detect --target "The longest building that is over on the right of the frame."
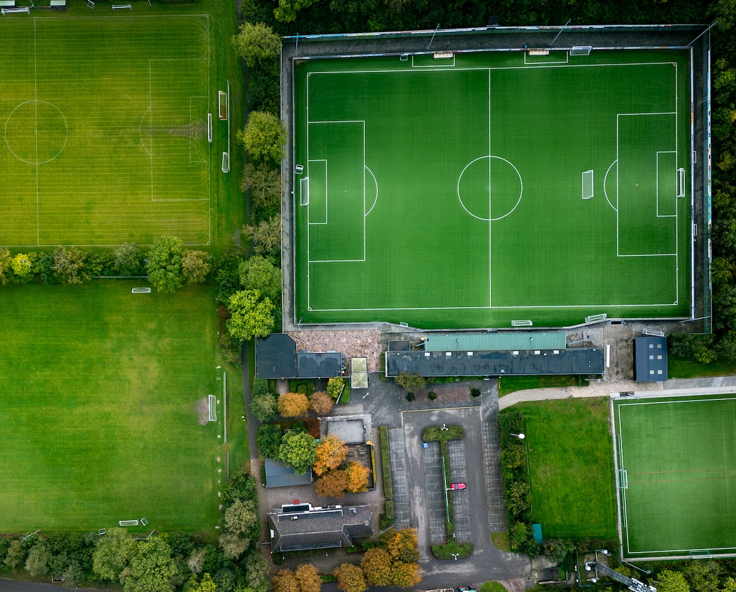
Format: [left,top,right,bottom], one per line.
[385,348,605,378]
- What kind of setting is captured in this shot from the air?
sports ground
